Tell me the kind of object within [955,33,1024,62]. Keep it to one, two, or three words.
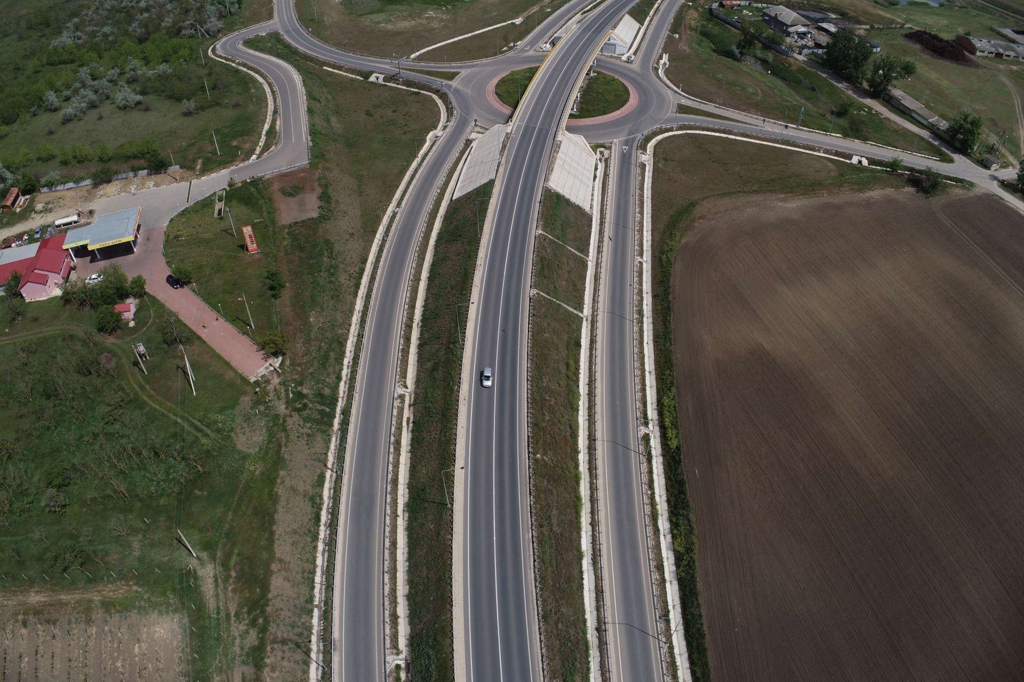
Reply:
barn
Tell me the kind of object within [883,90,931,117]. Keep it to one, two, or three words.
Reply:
shed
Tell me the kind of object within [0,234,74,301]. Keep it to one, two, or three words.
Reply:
building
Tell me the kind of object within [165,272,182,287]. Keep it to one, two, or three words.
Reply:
car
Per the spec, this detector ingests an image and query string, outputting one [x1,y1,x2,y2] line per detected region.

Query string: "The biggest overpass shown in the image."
[452,11,640,214]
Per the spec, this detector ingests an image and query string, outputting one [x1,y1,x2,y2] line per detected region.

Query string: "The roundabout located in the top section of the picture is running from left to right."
[390,46,758,146]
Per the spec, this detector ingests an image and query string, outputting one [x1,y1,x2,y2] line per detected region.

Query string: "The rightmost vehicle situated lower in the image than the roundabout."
[480,364,492,386]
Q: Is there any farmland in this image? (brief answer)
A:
Yes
